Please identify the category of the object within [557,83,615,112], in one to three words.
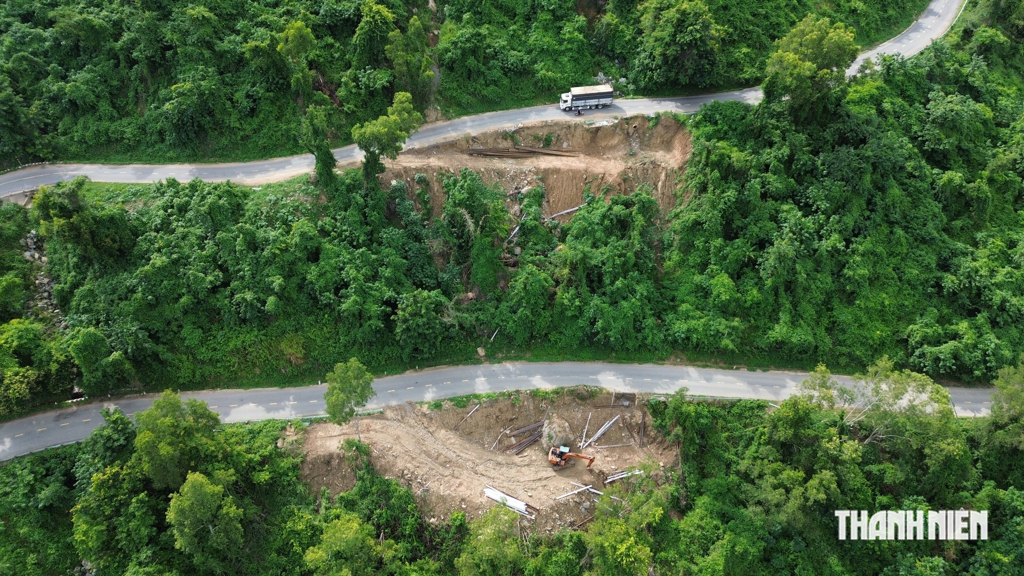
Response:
truck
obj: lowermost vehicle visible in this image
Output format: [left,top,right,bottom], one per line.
[550,448,598,472]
